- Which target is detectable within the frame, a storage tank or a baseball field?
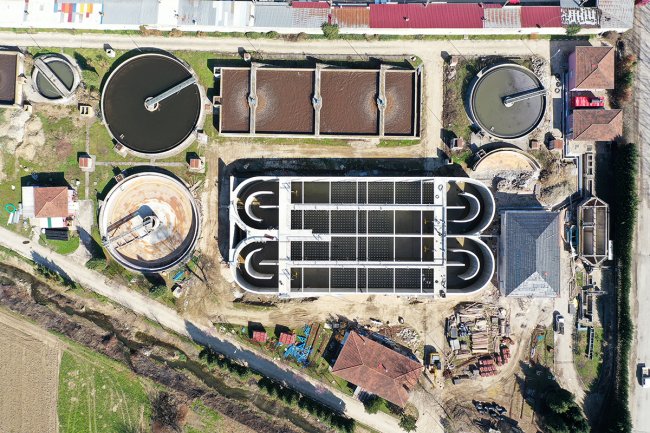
storage tank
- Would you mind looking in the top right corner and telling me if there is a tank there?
Yes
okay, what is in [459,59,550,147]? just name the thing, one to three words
storage tank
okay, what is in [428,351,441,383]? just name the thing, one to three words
vehicle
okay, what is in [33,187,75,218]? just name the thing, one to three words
house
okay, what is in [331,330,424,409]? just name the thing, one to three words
house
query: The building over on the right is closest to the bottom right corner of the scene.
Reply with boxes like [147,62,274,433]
[500,210,560,297]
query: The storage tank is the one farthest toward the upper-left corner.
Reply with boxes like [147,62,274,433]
[29,52,82,105]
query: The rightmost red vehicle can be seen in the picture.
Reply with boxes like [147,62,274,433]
[570,95,600,107]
